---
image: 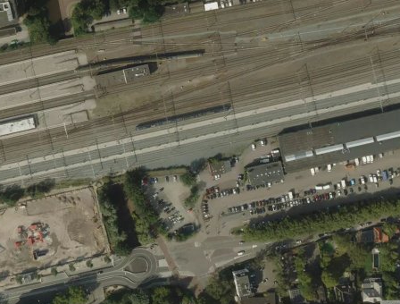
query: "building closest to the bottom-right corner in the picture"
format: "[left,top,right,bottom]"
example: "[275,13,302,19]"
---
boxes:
[362,279,382,302]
